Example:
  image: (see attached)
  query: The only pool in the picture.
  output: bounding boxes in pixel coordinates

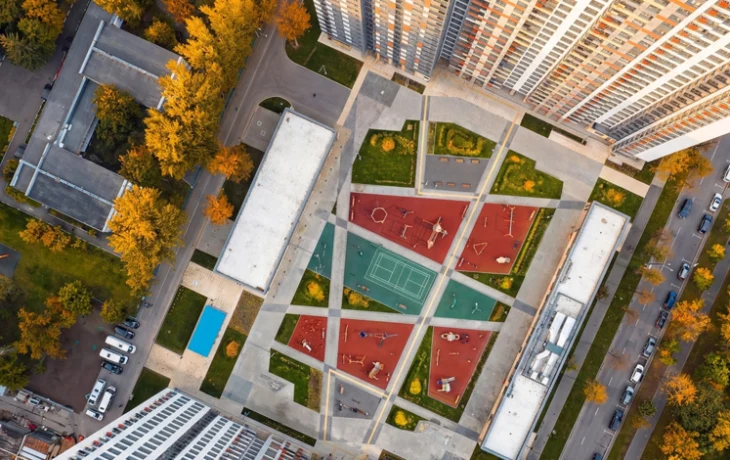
[186,305,228,359]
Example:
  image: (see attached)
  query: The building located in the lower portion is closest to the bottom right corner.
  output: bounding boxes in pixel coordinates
[476,200,631,460]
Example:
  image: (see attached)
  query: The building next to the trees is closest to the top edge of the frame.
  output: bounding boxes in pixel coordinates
[313,0,461,80]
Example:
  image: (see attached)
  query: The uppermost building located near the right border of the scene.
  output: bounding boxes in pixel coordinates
[441,0,730,162]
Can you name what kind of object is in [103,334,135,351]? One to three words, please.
vehicle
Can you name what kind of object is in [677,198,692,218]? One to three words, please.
car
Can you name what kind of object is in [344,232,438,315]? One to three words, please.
sports court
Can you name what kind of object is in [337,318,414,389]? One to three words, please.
playground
